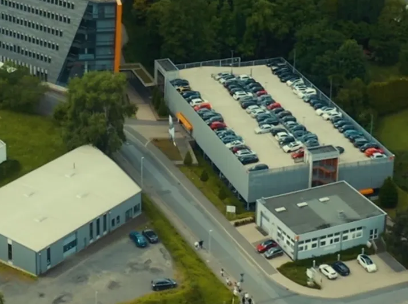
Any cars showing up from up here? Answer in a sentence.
Yes, this view includes a car.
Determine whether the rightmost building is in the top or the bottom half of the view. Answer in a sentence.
Seen from above, the rightmost building lies in the bottom half of the view.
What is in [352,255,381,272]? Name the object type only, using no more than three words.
car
